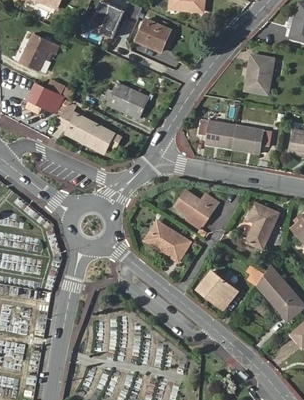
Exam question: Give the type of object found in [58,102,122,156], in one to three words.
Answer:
house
